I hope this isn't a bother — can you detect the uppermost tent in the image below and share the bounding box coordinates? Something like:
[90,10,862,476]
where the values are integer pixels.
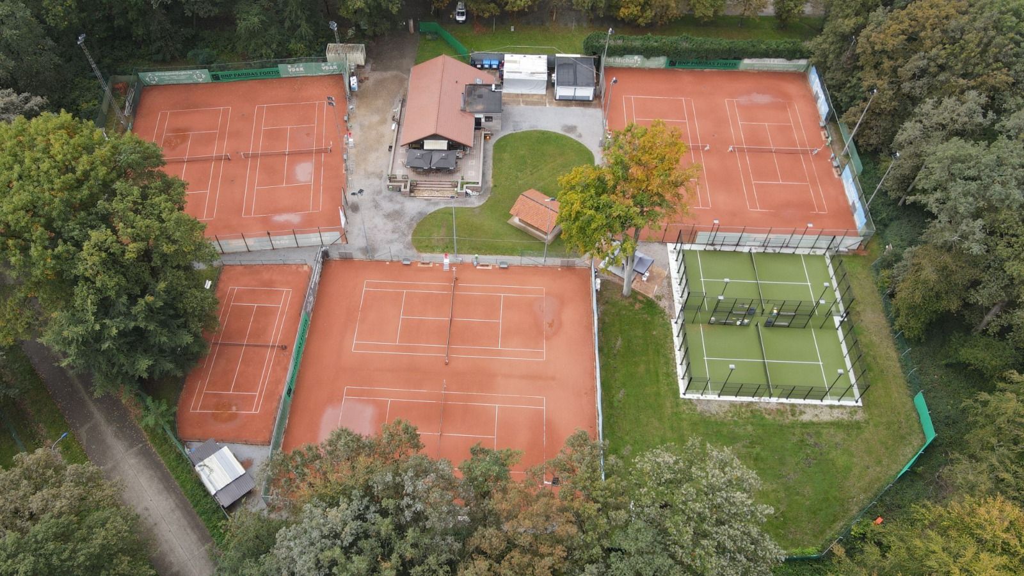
[501,54,549,93]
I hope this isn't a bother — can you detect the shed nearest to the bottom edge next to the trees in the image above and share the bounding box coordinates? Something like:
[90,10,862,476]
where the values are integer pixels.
[189,437,253,510]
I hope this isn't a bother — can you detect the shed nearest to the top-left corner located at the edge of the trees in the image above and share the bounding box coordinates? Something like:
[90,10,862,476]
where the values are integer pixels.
[324,38,367,67]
